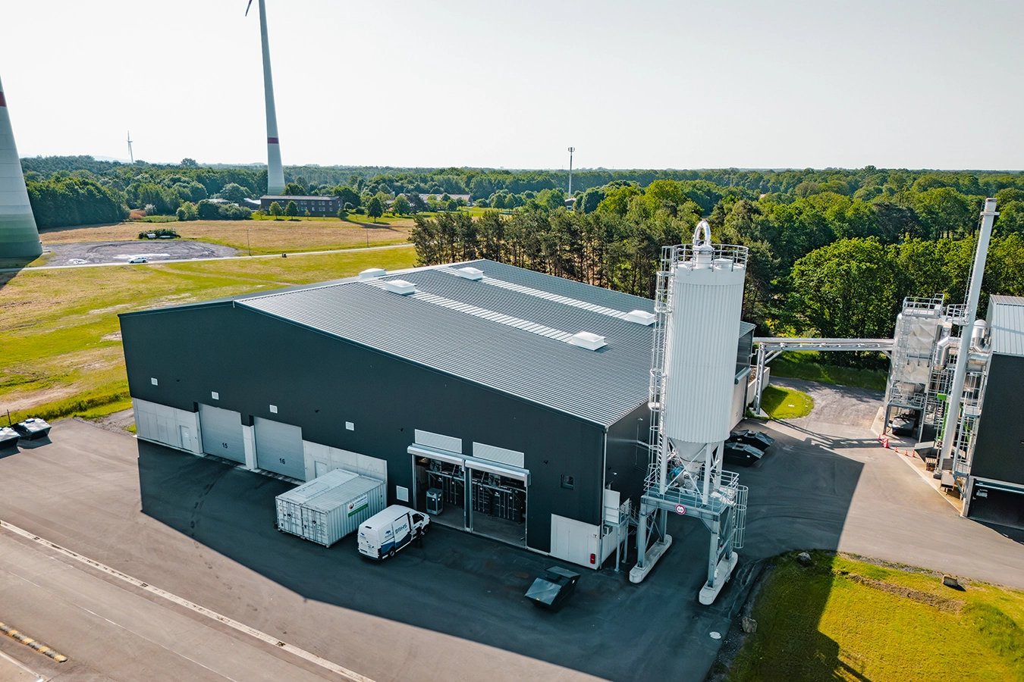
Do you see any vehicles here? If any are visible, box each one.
[127,257,147,263]
[357,503,433,563]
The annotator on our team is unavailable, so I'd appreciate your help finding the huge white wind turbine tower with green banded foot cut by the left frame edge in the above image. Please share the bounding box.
[0,63,48,262]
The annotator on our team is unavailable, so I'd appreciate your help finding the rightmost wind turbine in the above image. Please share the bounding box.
[249,0,286,193]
